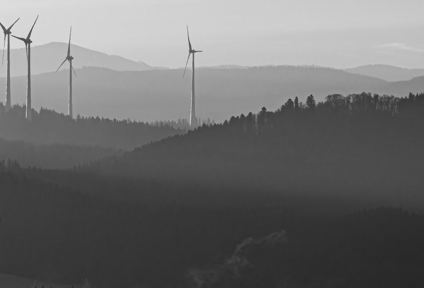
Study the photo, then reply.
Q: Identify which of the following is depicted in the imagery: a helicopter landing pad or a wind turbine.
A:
wind turbine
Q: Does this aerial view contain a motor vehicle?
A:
No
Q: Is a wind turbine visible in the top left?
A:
Yes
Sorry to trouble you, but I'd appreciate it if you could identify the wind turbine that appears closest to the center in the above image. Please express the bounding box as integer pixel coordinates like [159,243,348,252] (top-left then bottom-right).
[180,27,202,136]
